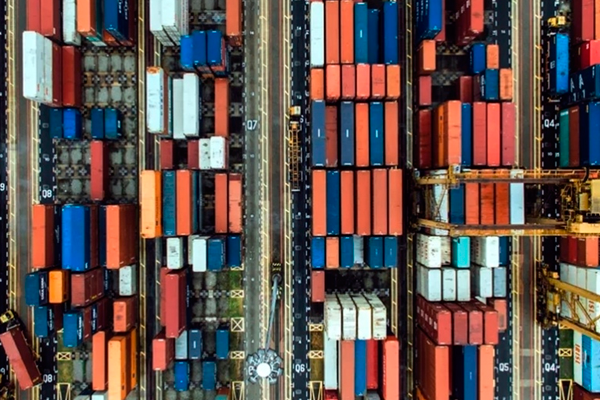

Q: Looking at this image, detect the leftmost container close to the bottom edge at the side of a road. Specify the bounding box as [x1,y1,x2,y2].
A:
[0,325,41,389]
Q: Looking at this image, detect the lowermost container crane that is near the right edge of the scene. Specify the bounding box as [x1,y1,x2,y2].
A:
[538,266,600,345]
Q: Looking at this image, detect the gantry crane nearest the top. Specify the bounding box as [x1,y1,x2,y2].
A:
[405,159,600,237]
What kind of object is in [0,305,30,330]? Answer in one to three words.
truck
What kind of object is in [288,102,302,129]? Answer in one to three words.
vehicle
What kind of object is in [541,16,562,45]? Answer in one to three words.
truck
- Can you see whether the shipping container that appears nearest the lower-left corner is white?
No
